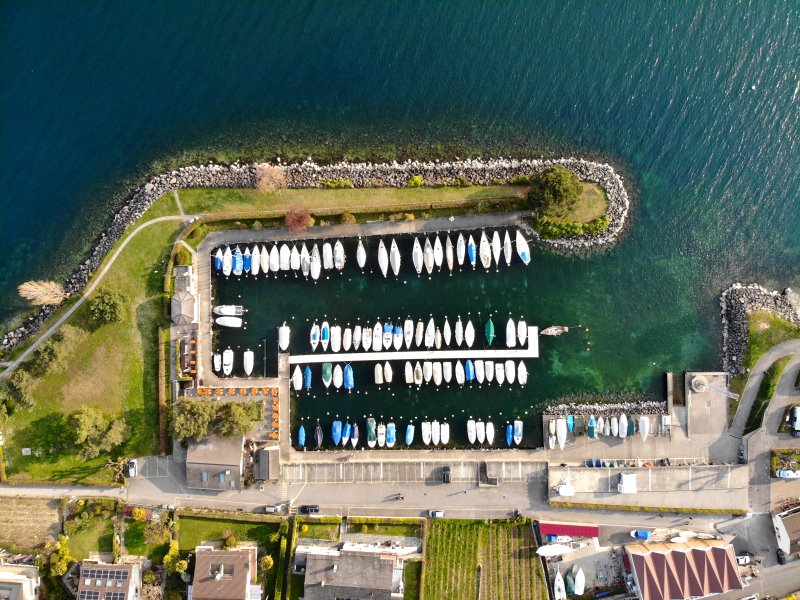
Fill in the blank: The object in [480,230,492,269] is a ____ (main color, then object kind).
white boat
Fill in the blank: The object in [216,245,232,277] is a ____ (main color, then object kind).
white boat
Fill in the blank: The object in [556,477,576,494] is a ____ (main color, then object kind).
white vehicle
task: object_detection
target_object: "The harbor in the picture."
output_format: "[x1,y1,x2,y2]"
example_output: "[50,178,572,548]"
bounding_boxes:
[197,211,738,465]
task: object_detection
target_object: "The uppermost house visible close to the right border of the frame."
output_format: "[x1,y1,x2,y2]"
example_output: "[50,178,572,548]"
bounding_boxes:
[772,504,800,555]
